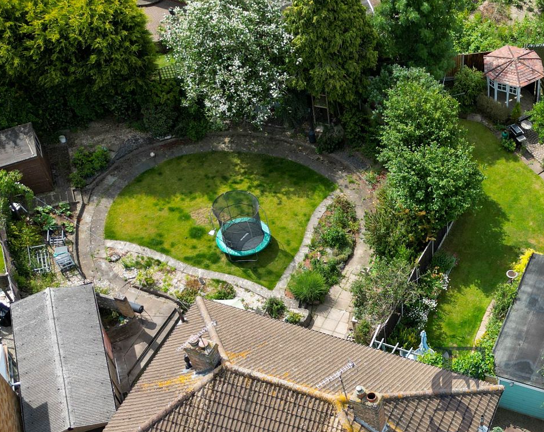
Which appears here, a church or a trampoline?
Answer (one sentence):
Visible in the photo is a trampoline.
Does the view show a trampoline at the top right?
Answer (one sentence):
No, no trampoline is visible at the top right.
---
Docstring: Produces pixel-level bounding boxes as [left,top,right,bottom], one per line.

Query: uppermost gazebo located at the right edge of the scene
[477,49,538,114]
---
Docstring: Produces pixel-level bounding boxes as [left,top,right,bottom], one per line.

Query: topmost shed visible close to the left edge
[0,131,49,208]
